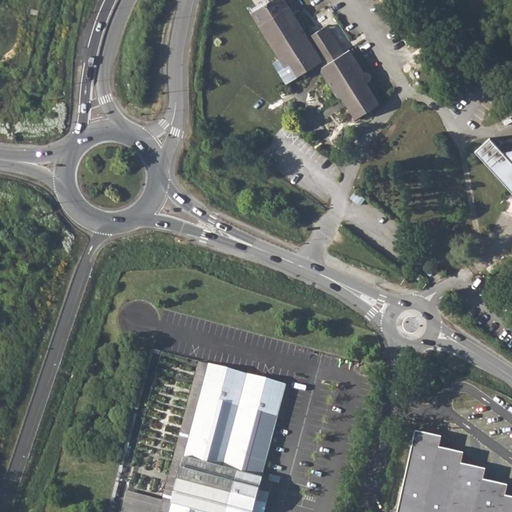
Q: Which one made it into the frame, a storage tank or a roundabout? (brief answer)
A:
roundabout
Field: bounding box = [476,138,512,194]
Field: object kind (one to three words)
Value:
house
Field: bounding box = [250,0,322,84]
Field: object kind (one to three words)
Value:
barn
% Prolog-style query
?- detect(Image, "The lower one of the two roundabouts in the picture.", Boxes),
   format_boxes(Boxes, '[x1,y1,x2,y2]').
[382,294,442,354]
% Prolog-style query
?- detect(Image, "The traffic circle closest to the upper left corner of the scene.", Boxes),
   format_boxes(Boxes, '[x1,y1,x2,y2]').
[53,119,169,235]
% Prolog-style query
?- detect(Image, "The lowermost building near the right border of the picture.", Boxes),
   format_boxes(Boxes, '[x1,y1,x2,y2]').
[398,431,512,512]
